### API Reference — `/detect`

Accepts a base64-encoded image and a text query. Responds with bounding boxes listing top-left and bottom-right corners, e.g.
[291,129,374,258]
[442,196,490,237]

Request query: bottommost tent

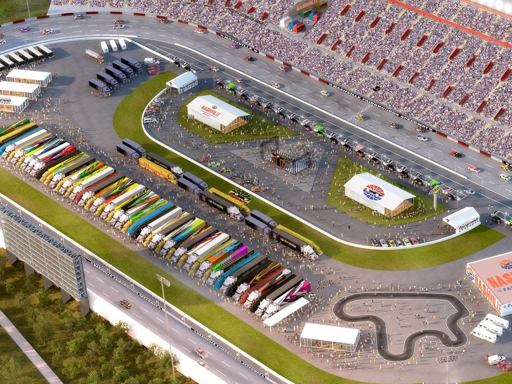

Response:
[298,322,360,351]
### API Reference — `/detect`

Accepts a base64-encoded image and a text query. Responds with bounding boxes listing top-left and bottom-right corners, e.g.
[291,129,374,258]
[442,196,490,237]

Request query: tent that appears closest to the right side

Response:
[443,204,482,233]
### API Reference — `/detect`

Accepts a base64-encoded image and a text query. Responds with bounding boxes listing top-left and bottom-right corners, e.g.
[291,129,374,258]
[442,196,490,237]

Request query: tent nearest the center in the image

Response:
[185,93,251,134]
